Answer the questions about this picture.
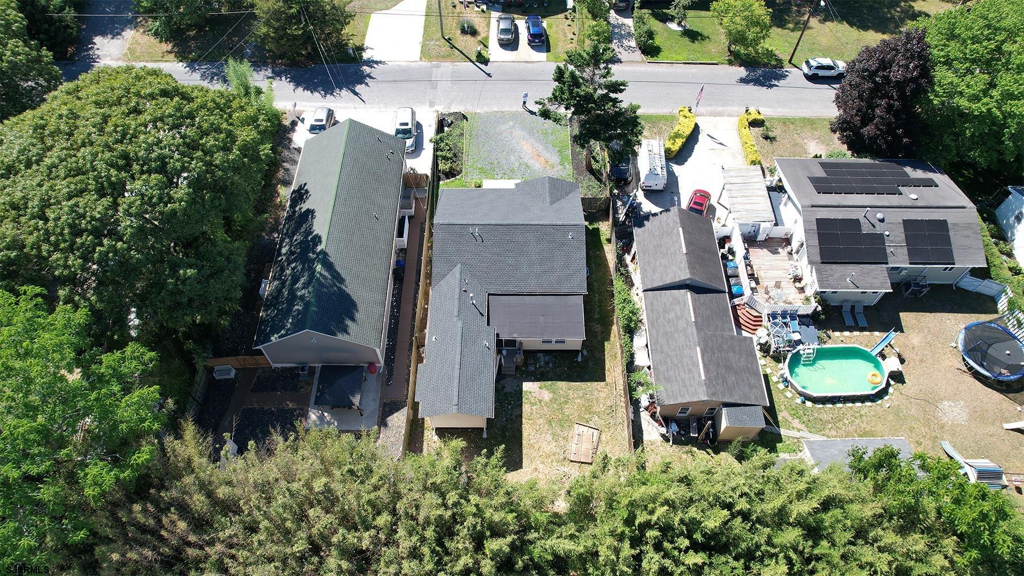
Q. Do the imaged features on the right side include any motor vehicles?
Yes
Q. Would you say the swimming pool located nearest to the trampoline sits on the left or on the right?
right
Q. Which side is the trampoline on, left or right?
right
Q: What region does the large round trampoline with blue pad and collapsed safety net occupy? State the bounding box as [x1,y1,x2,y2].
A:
[952,304,1024,387]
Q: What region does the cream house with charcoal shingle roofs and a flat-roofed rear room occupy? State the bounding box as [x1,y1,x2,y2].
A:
[415,172,587,429]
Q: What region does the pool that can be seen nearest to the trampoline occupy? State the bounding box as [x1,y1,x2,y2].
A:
[783,345,889,403]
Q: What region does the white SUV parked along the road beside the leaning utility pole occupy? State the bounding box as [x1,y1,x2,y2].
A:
[797,57,850,84]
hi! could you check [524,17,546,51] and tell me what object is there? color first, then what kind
blue car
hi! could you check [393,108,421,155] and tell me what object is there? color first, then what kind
white car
